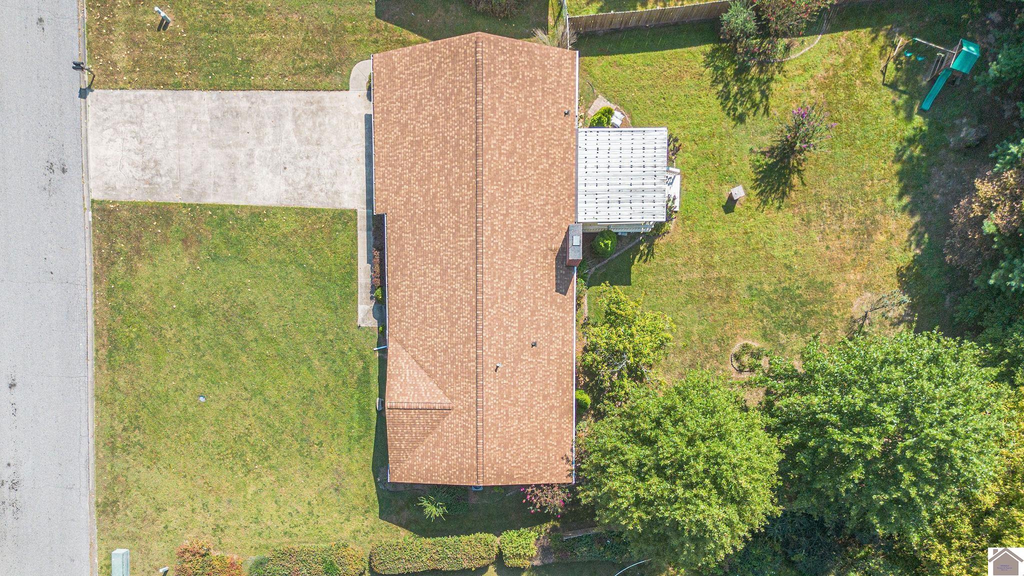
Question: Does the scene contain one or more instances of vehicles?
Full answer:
No, no vehicle is visible in the view.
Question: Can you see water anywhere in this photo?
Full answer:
No, no water is visible.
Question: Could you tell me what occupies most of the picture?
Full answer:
What you mostly see from above here is grass.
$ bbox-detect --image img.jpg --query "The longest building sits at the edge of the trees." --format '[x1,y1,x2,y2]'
[371,33,582,485]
